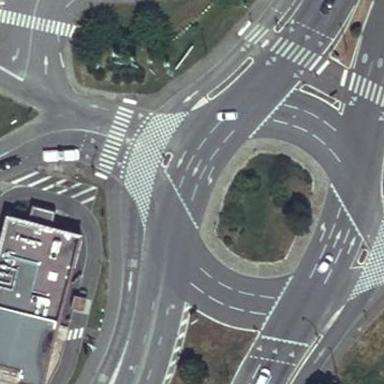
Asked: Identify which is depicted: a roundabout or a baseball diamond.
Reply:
roundabout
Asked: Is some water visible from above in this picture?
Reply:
No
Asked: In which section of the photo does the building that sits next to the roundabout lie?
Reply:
bottom left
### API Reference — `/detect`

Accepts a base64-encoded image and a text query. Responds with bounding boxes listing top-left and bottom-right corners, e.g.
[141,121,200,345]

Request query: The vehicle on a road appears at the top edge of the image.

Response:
[320,0,335,14]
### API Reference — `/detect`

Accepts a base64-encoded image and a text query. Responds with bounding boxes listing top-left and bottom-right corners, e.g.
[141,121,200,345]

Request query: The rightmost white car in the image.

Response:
[316,252,335,276]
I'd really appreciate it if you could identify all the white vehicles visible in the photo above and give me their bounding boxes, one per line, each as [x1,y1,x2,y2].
[42,149,80,162]
[316,252,335,276]
[217,111,238,122]
[256,367,272,384]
